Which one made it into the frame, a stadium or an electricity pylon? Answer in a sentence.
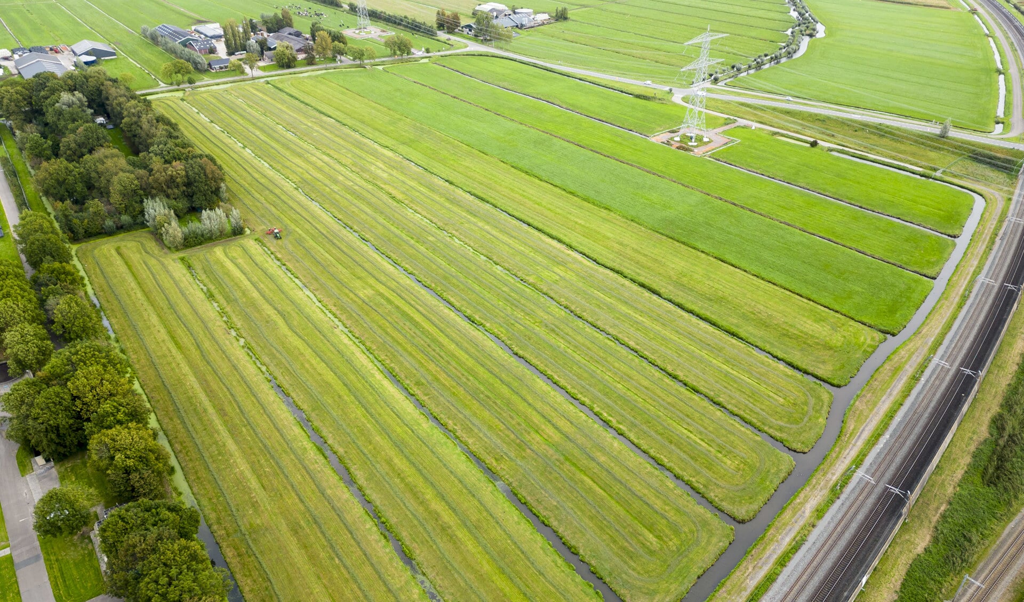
I can see an electricity pylon in this picture.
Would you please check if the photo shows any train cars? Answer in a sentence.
No, there is no train car in the image.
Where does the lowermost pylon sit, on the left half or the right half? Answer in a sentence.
It is on the right.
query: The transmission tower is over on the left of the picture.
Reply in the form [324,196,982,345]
[353,0,375,34]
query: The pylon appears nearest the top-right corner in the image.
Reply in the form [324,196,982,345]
[671,23,730,145]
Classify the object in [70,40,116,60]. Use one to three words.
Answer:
barn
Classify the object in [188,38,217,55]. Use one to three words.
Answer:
barn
